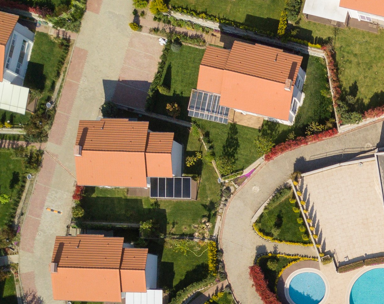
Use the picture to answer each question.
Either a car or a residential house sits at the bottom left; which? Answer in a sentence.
Looking at the bottom left, you will find a residential house.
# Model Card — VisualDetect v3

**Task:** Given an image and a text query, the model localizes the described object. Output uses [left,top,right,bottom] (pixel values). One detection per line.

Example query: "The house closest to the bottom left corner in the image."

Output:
[47,233,162,304]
